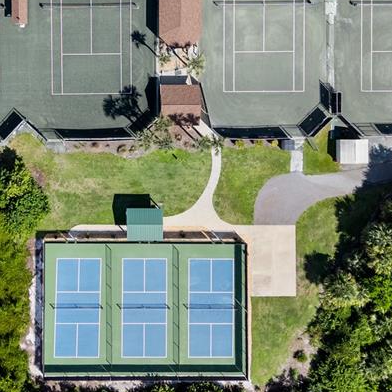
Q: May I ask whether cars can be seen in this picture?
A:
No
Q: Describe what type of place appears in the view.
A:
sports ground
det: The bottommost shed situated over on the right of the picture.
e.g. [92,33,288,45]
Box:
[334,140,368,164]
